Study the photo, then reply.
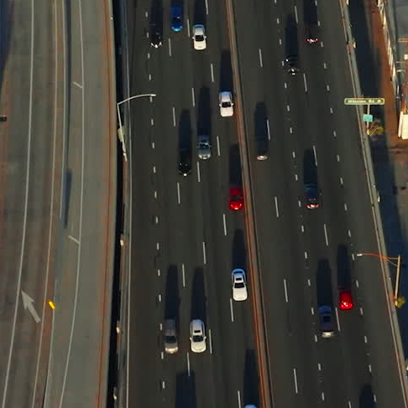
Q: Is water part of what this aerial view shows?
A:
No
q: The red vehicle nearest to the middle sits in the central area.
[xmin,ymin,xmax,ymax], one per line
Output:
[229,185,244,214]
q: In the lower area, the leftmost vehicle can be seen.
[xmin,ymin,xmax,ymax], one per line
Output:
[162,320,180,352]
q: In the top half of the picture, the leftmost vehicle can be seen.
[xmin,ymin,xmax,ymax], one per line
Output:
[149,23,164,47]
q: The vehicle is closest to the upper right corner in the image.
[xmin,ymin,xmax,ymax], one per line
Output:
[304,21,320,43]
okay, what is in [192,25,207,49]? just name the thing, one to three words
car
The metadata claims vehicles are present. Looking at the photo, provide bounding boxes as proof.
[218,90,234,119]
[176,149,193,174]
[229,185,244,214]
[317,307,335,339]
[304,21,320,43]
[192,25,207,49]
[303,184,320,211]
[283,52,300,78]
[162,320,180,352]
[196,134,212,162]
[170,7,185,29]
[254,135,270,162]
[189,321,207,352]
[149,23,164,47]
[231,271,249,301]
